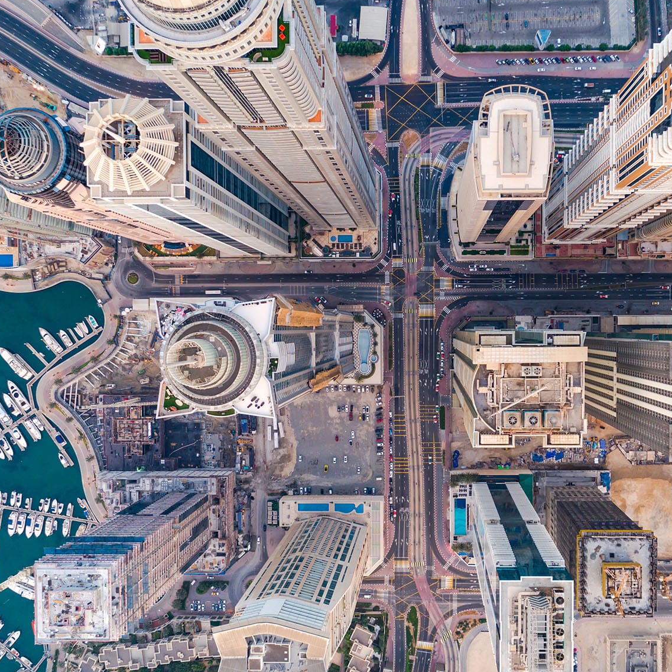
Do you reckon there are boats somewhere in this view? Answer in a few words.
Yes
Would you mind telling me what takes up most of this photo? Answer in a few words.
buildings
